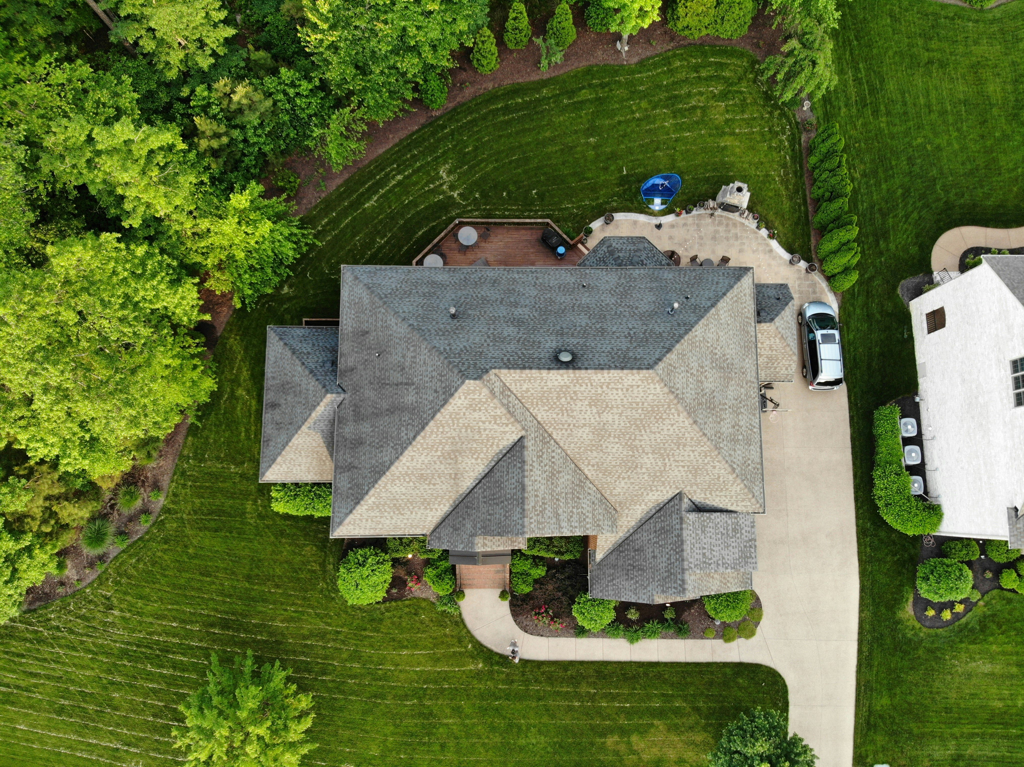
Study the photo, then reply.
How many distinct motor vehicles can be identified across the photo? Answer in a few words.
1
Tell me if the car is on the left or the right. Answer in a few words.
right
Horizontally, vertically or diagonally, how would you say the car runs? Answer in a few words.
vertically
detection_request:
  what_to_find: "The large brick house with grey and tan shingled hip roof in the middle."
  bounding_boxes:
[257,234,799,604]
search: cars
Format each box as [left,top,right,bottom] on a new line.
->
[800,304,847,394]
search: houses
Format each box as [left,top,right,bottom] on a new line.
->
[257,234,799,604]
[910,259,1024,550]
